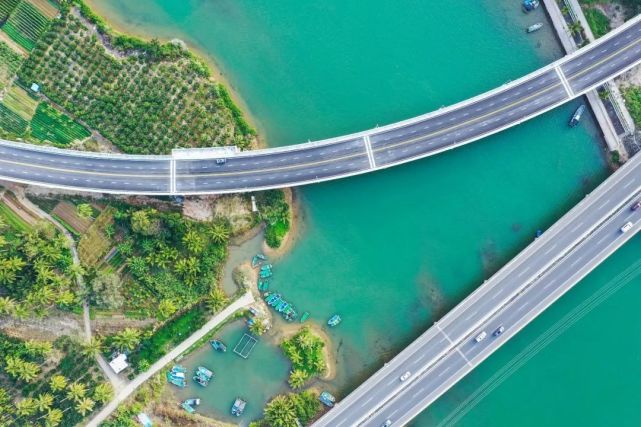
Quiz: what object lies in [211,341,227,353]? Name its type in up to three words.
boat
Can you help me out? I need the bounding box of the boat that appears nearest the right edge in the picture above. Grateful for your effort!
[568,105,585,128]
